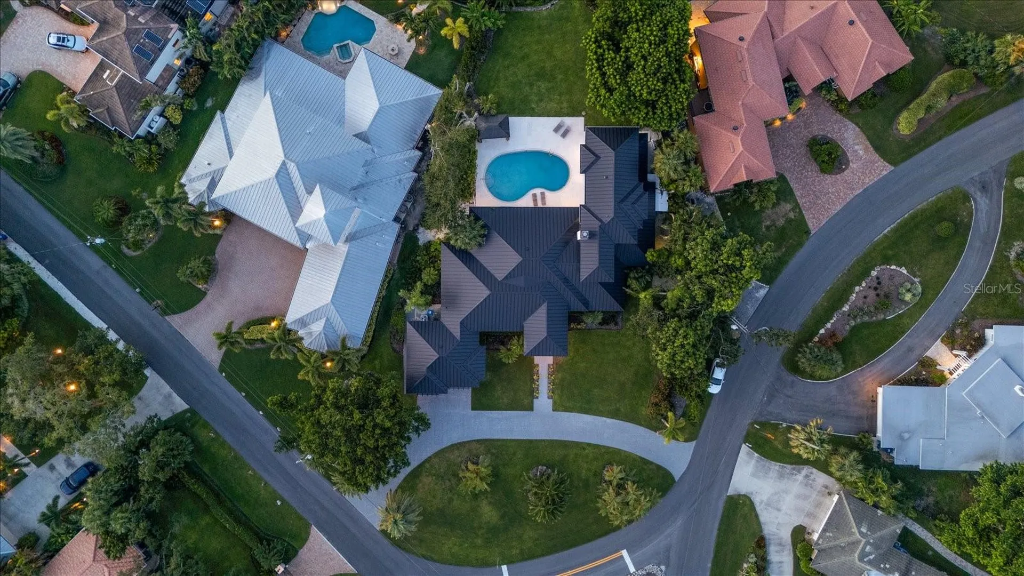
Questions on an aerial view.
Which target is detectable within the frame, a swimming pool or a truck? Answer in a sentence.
The image shows a swimming pool.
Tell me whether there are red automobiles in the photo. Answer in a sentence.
No, I can't see a single red automobile in this photo.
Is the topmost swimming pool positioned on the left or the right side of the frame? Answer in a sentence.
The topmost swimming pool appears in the left half of the scene.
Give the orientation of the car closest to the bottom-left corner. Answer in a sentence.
Seen from above, the car closest to the bottom-left corner lies at an angle.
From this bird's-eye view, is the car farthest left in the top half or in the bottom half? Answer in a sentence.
The top half of the photo is where the car farthest left is.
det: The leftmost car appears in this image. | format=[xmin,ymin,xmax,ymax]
[0,71,25,113]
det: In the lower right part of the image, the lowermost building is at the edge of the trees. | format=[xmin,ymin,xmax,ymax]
[806,488,949,576]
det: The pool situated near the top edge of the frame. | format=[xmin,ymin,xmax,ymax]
[300,3,378,58]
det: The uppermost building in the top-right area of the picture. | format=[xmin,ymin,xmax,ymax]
[692,0,915,193]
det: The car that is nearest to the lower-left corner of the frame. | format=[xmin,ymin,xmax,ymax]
[59,459,99,495]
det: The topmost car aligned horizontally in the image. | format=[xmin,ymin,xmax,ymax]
[45,32,89,54]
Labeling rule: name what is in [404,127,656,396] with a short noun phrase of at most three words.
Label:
house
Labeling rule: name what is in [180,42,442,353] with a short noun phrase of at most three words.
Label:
house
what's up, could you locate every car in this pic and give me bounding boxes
[59,459,99,495]
[45,32,89,54]
[0,71,25,113]
[706,357,728,394]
